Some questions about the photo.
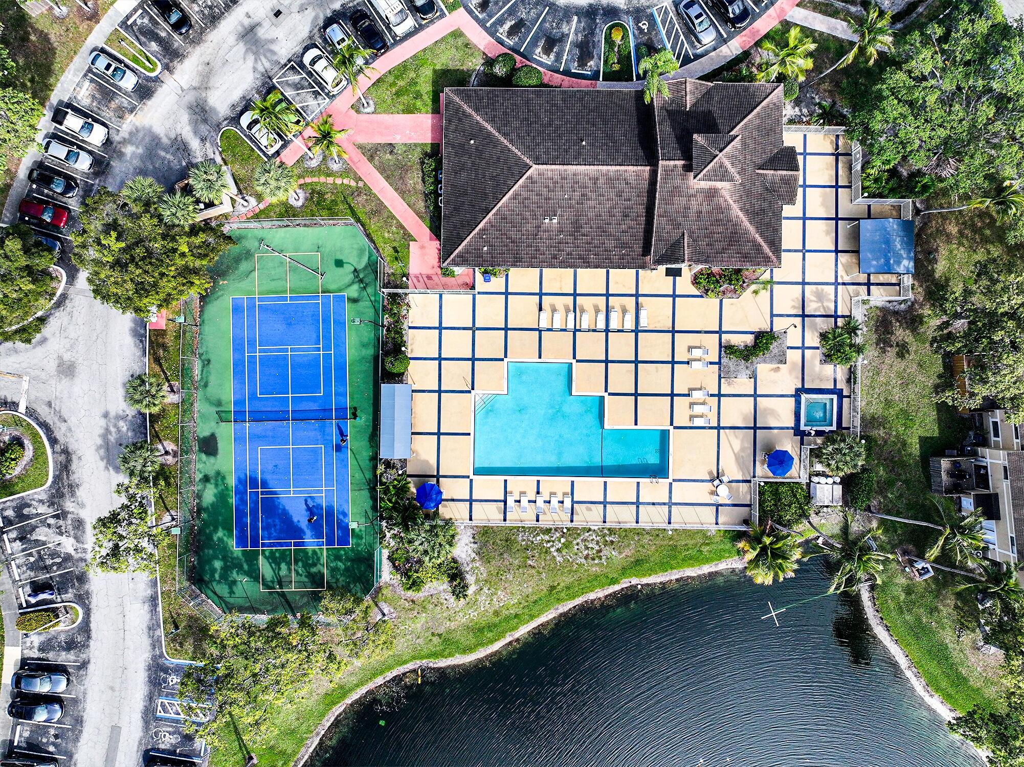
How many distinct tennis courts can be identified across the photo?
1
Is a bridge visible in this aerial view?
No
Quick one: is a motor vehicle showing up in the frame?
Yes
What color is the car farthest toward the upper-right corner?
black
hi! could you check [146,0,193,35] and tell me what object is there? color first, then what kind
black car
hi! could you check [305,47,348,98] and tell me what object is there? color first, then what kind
white car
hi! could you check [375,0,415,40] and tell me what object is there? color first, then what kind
white vehicle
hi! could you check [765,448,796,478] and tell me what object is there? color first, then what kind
blue umbrella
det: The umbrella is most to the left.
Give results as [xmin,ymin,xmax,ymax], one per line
[415,482,443,510]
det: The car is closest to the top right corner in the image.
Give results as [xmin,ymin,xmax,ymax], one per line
[708,0,747,36]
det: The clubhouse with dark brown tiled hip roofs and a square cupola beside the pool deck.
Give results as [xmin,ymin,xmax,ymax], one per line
[441,74,806,276]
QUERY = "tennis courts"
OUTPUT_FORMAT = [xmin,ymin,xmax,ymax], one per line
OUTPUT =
[196,225,383,615]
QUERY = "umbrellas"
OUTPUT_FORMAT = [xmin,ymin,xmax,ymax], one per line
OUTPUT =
[765,448,796,478]
[415,482,443,510]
